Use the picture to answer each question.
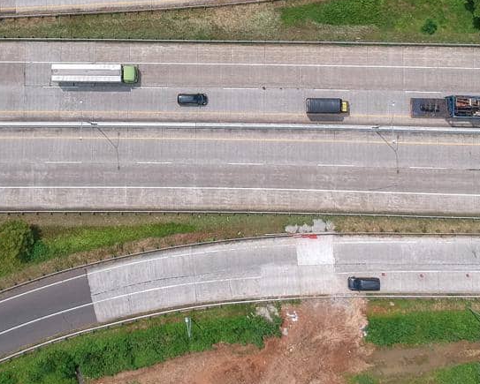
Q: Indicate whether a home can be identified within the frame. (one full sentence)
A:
No, no home is visible in the scene.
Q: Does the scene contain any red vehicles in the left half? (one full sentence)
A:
No, I see no red vehicle in the left half.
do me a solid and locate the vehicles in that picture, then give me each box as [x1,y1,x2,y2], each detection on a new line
[305,97,350,114]
[176,93,207,106]
[347,276,382,293]
[51,64,140,85]
[410,97,480,118]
